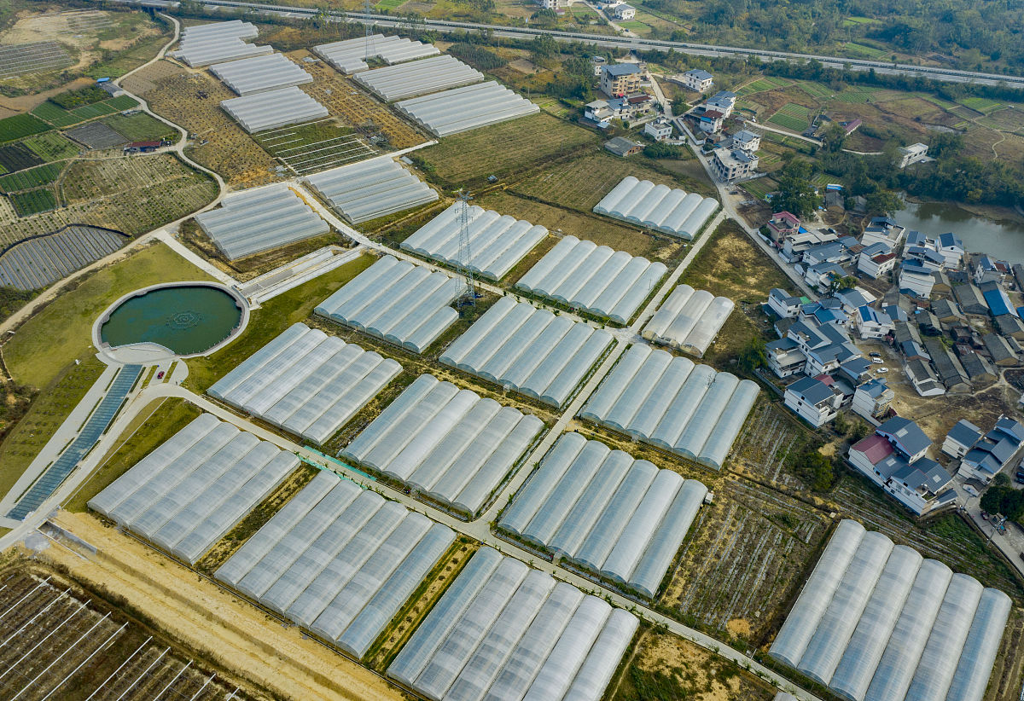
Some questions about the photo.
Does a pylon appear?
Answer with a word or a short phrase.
Yes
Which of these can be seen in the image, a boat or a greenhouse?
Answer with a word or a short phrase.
greenhouse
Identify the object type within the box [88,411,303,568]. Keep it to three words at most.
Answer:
greenhouse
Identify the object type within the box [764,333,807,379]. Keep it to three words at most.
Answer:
house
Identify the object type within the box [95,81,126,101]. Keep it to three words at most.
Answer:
shed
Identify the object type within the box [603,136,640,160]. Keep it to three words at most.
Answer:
barn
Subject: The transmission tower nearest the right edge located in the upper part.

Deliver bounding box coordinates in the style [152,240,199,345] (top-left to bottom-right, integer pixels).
[445,183,479,300]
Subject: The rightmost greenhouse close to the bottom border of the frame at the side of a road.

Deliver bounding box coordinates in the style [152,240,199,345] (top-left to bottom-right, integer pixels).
[768,518,1013,701]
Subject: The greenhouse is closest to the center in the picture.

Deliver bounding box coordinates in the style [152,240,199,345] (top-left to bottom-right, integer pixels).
[437,295,615,408]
